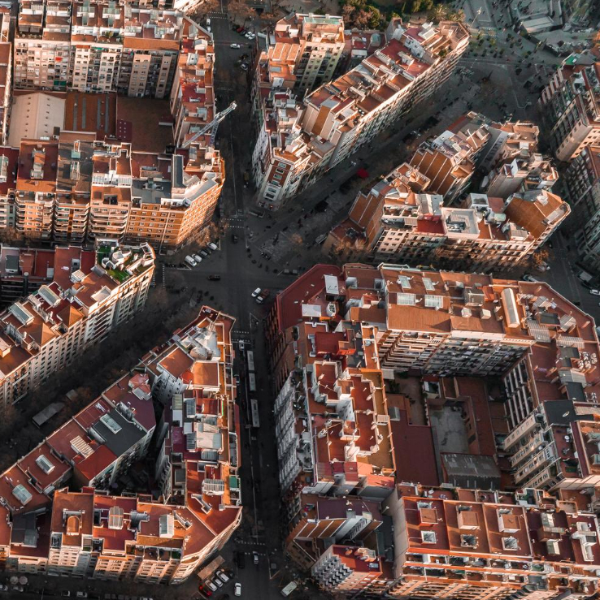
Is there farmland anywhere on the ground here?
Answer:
No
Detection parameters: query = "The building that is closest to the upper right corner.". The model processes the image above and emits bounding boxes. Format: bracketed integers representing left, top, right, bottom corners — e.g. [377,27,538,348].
[518,14,556,39]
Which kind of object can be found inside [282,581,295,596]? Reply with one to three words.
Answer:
vehicle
